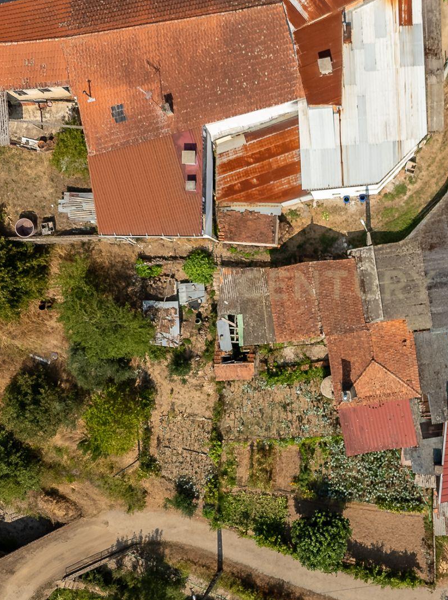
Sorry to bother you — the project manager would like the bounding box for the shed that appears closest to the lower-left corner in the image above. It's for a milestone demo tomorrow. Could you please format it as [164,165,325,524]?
[143,301,185,347]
